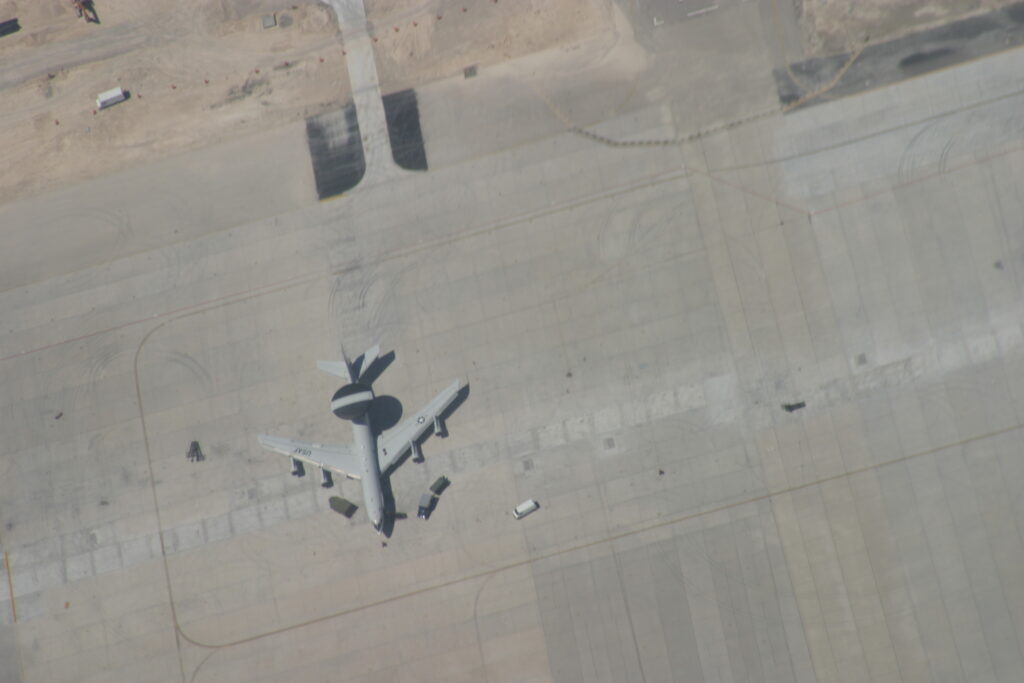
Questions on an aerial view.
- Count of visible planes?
one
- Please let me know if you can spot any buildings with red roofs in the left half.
No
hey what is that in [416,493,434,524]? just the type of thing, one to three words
vehicle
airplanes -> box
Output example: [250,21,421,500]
[257,341,460,534]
